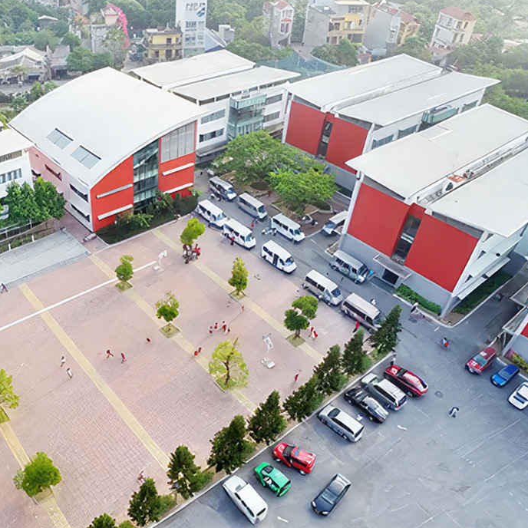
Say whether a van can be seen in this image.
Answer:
Yes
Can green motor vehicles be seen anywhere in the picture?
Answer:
Yes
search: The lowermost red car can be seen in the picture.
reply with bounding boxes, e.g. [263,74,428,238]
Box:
[274,445,316,479]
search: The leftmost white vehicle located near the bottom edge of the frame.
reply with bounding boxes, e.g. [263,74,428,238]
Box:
[227,475,269,526]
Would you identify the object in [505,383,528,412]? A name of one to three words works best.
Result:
car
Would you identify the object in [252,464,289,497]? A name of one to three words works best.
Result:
car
